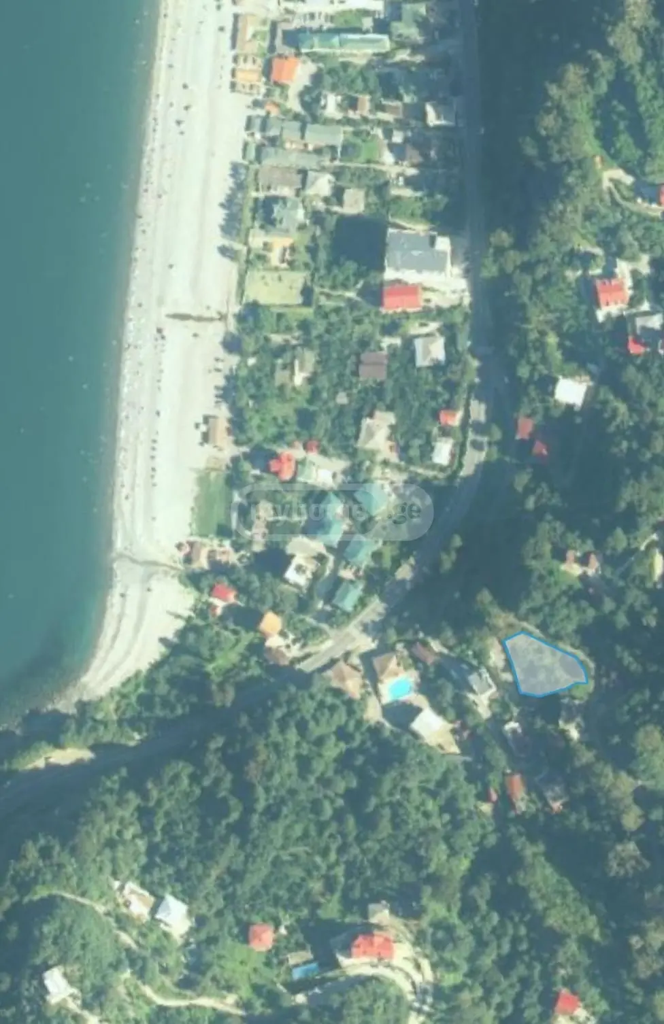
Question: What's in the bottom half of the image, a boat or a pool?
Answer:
pool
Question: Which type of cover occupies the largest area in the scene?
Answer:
trees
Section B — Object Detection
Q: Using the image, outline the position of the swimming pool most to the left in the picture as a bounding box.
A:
[290,960,320,980]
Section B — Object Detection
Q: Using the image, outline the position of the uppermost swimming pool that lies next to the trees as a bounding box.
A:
[388,676,413,701]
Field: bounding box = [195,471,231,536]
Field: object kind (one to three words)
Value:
sports field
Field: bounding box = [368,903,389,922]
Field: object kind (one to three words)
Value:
shed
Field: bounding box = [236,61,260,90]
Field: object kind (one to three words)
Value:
building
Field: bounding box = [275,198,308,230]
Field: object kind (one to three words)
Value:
house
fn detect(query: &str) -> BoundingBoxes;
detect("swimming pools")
[388,676,413,701]
[290,960,320,980]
